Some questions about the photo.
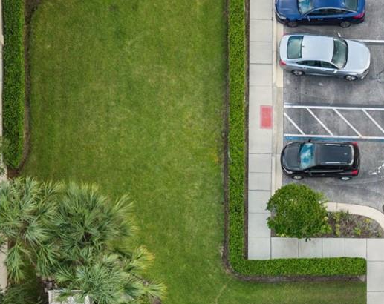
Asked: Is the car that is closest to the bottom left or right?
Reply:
right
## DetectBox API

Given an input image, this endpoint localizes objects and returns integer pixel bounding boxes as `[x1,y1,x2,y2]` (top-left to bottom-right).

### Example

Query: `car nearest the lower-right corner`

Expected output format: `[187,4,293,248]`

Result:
[276,131,362,178]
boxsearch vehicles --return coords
[273,0,364,22]
[276,131,362,178]
[280,28,372,75]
